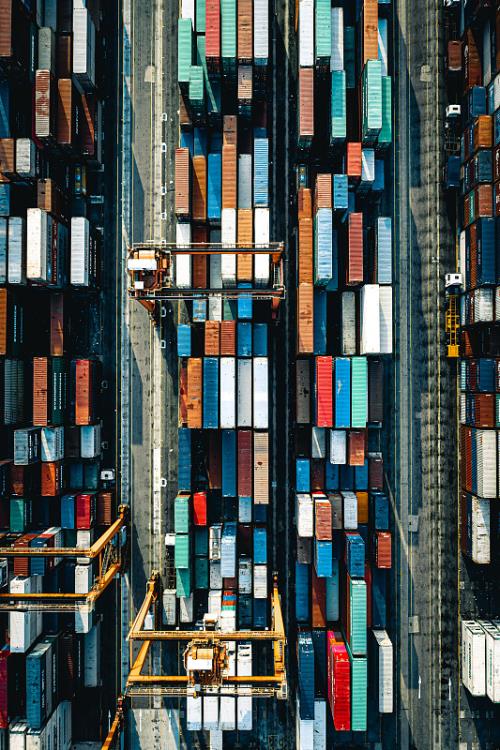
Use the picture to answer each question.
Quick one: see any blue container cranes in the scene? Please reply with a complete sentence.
No, there's no blue container crane here.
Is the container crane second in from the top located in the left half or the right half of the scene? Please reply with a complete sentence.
The container crane second in from the top appears in the left half of the scene.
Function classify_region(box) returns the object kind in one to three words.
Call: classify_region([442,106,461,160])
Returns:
vehicle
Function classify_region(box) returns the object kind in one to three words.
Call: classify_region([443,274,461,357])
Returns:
vehicle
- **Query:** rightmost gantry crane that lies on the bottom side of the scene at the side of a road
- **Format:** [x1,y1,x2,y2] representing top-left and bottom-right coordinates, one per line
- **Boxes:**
[124,570,293,703]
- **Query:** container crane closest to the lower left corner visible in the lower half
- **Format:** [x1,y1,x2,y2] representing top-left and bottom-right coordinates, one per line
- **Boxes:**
[103,702,126,750]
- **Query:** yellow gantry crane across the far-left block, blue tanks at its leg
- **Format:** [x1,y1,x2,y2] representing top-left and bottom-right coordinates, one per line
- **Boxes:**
[0,503,127,620]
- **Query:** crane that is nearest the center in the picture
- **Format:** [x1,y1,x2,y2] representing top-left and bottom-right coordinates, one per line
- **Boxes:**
[123,239,293,328]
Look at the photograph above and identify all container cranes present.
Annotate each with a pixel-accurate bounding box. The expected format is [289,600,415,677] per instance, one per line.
[103,702,126,750]
[0,503,127,620]
[124,570,293,703]
[123,239,293,328]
